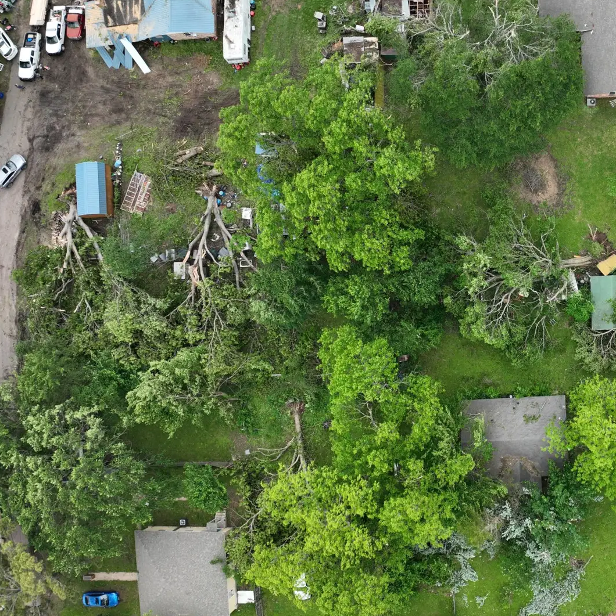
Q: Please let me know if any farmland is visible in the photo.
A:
No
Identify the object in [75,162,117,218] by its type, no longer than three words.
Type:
shed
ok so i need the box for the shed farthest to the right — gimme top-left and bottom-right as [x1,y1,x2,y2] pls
[591,276,616,330]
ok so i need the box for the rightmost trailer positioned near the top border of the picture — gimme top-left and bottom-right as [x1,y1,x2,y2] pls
[225,0,256,68]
